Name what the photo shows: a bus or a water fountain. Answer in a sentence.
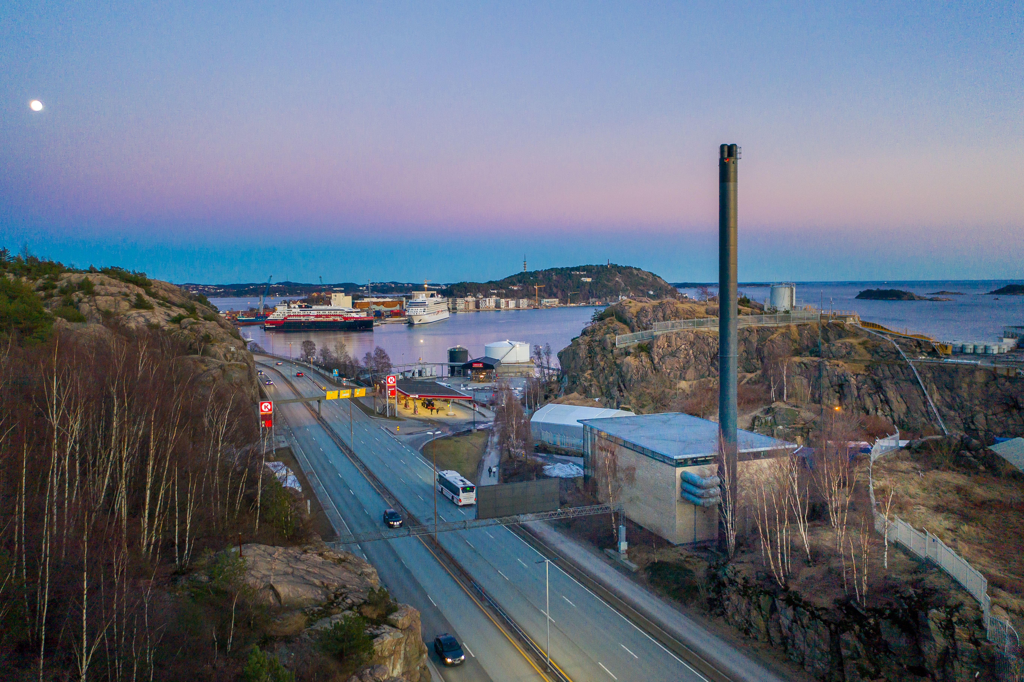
It is a bus that can be seen here.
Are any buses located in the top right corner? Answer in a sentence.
No, no bus can be made out in the top right corner.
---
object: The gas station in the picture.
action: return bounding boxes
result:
[368,380,472,412]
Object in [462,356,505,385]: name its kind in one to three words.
shed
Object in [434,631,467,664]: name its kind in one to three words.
car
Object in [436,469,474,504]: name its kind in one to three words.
bus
